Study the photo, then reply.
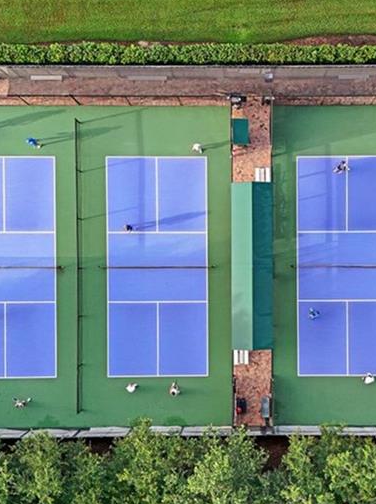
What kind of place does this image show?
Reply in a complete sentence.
This image shows a sports ground.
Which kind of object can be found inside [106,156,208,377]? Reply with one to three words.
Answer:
sports court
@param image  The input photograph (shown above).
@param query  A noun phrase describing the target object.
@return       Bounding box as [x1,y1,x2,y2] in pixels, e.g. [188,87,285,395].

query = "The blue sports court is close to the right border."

[297,155,376,376]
